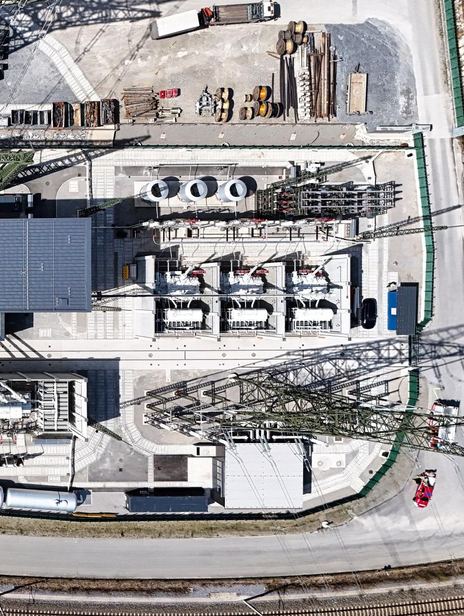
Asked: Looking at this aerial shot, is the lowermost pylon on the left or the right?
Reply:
right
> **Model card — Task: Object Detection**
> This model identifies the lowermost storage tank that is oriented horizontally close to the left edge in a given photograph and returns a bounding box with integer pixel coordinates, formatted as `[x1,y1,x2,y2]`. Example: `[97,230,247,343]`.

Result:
[6,484,78,513]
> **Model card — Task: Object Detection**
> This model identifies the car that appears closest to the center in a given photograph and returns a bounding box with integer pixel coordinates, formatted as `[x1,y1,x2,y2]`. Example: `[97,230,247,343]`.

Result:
[358,297,377,329]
